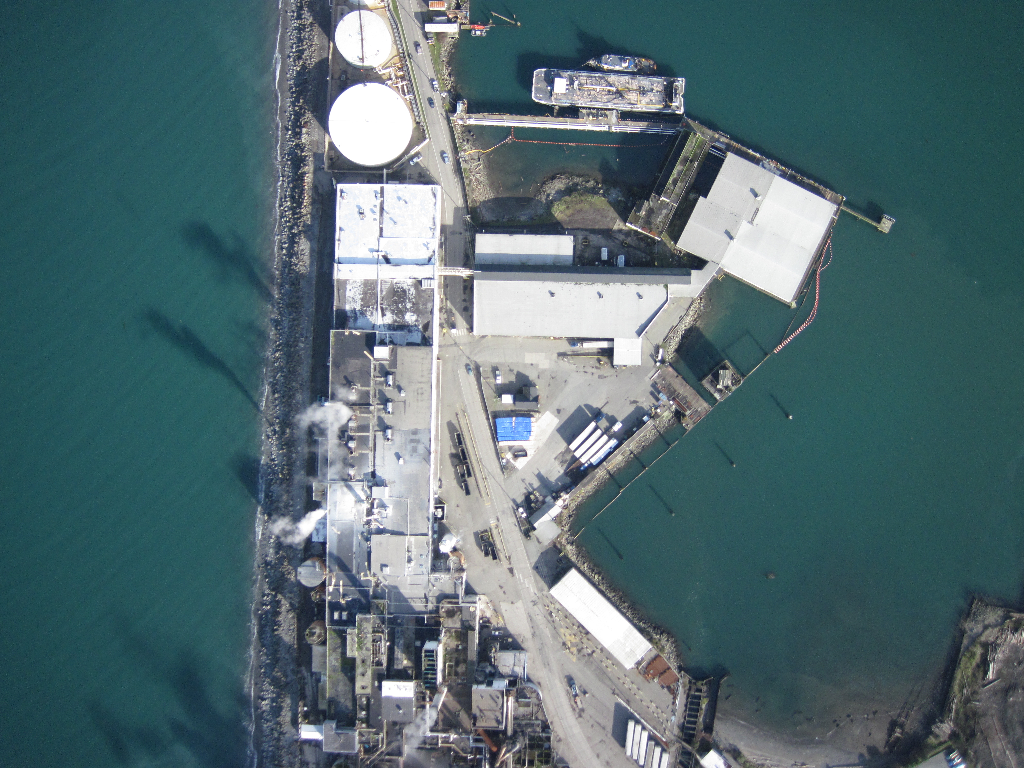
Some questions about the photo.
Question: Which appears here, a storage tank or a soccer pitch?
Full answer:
It is a storage tank that can be seen here.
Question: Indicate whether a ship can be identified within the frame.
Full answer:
Yes, there is a ship in the image.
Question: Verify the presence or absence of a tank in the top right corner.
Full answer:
No, the scene shows no tank in the top right corner.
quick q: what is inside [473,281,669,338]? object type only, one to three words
building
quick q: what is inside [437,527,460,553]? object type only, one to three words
silo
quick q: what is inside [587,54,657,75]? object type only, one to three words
boat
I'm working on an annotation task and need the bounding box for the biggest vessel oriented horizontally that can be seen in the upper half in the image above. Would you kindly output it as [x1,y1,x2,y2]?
[532,68,684,116]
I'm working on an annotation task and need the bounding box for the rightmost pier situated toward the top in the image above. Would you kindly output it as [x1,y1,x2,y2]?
[840,205,895,234]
